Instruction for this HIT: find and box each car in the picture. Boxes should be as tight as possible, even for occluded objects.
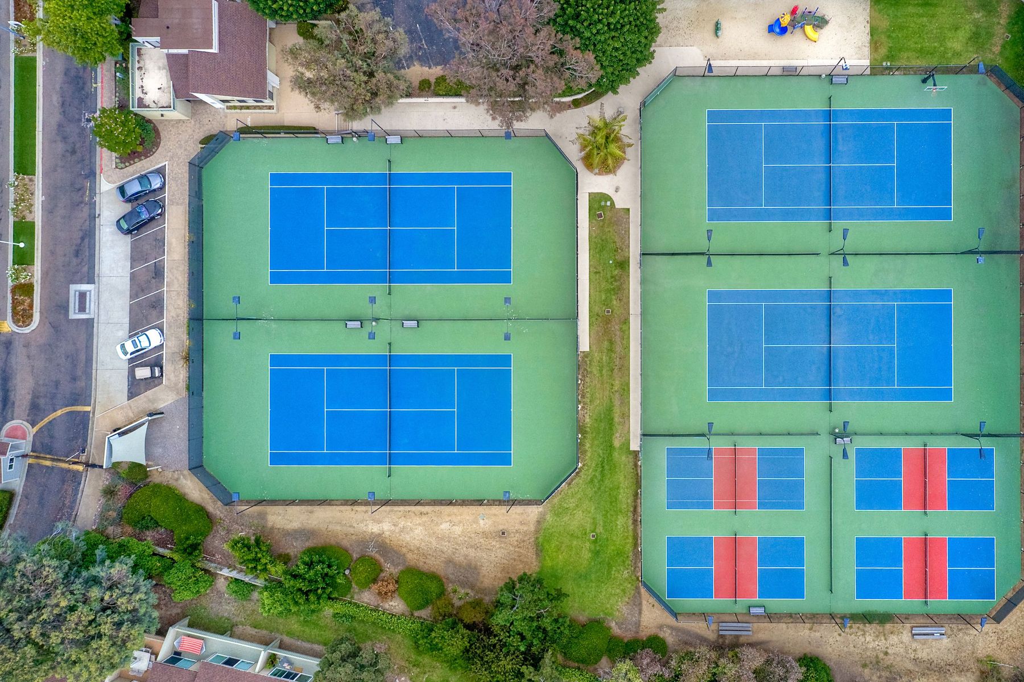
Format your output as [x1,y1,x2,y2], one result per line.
[114,199,167,235]
[114,328,167,360]
[115,171,169,204]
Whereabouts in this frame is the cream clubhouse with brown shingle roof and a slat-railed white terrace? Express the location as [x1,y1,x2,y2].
[130,0,280,119]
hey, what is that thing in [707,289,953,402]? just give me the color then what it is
blue tennis court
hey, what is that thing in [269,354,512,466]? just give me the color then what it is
blue tennis court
